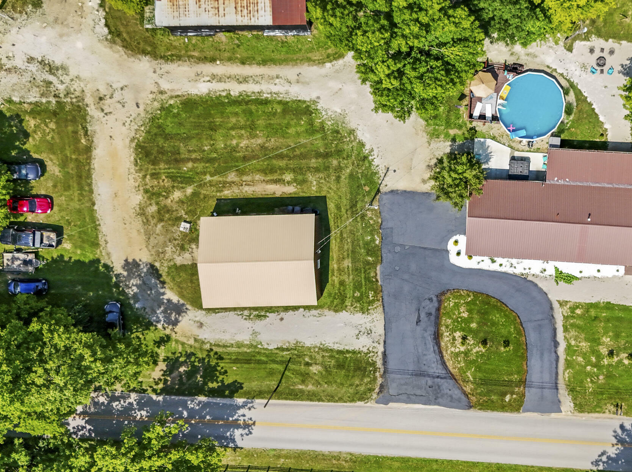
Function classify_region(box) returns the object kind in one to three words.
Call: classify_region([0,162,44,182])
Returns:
car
